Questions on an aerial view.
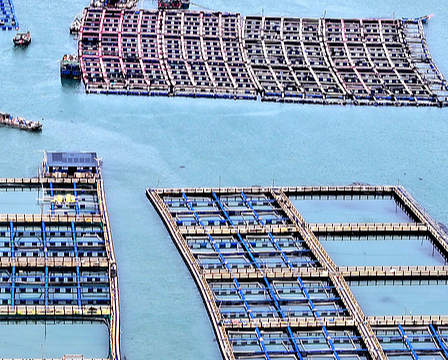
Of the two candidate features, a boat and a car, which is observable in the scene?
boat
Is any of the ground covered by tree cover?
No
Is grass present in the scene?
No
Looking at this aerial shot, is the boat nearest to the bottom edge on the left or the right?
left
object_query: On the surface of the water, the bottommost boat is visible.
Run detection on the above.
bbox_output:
[0,108,46,129]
